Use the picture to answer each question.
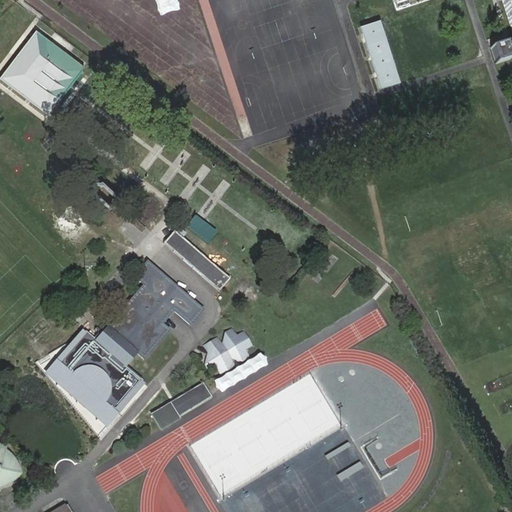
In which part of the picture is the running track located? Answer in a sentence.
You can find the running track in the bottom area of the picture.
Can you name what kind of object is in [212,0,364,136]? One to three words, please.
sports court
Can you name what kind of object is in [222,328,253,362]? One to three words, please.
house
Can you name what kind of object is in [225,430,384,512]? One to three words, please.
basketball court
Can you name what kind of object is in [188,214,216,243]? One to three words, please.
shed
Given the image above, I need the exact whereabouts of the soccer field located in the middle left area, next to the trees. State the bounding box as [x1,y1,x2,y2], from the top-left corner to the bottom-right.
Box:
[0,200,66,337]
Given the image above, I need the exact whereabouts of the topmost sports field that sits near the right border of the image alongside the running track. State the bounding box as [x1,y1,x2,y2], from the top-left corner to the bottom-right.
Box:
[388,158,512,362]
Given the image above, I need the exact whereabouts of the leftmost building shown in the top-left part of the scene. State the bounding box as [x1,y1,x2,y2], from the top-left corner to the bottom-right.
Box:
[0,30,82,114]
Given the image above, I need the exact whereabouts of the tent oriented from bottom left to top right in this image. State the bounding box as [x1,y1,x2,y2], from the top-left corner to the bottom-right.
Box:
[215,356,264,394]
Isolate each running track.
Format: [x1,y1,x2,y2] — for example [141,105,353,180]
[97,308,438,512]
